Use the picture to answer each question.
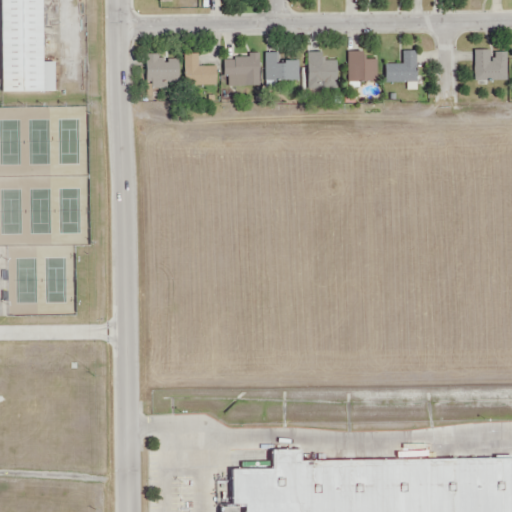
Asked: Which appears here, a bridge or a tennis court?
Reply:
tennis court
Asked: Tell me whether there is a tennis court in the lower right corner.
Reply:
No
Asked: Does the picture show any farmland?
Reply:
Yes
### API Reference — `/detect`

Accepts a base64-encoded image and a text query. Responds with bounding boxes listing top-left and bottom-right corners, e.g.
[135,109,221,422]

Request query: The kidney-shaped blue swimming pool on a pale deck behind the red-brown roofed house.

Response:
[358,81,381,98]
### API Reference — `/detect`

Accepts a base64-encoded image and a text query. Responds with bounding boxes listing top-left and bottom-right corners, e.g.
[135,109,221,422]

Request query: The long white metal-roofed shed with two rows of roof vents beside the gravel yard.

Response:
[2,0,44,90]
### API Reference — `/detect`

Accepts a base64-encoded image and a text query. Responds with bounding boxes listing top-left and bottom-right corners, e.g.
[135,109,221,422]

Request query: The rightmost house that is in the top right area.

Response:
[475,48,509,84]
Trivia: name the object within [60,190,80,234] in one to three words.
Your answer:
tennis court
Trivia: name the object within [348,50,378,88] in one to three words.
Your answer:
house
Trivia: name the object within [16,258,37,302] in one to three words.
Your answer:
tennis court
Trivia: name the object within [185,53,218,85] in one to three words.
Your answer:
house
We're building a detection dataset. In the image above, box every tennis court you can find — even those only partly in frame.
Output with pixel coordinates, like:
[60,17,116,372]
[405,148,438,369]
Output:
[60,190,80,234]
[57,120,81,164]
[28,190,52,234]
[1,190,21,234]
[16,258,37,302]
[44,258,66,302]
[0,120,20,164]
[30,120,50,164]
